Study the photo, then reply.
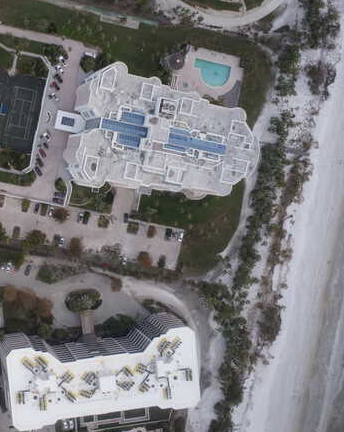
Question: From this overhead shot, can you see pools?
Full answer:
Yes, the image includes a pool.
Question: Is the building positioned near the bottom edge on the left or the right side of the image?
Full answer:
The building positioned near the bottom edge is on the left side of the image.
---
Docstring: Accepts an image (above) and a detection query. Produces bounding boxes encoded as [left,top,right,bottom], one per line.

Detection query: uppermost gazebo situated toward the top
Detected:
[169,54,184,67]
